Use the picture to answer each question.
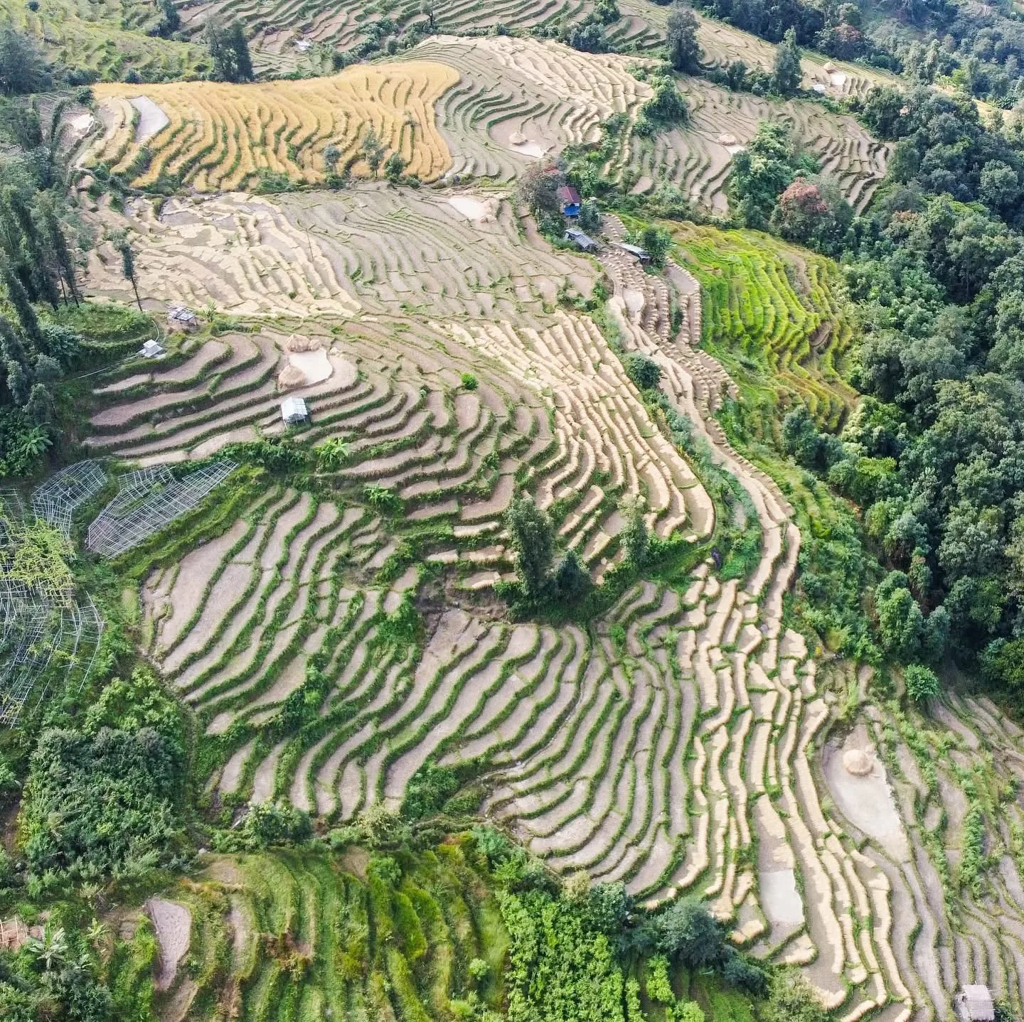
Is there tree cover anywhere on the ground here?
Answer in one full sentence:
Yes, tree cover can be seen from above here.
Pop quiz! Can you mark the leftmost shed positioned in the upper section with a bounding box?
[162,309,199,332]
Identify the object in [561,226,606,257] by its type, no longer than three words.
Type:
shed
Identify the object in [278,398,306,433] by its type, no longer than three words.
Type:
shed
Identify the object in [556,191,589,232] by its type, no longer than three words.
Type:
building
